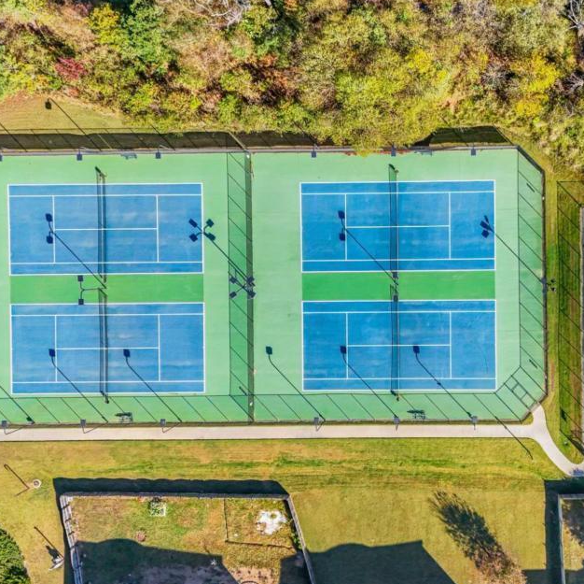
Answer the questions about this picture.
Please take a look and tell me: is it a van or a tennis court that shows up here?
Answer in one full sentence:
The image shows a tennis court.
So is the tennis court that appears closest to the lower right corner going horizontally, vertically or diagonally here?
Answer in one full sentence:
I'd say the tennis court that appears closest to the lower right corner is aligned horizontally in the picture.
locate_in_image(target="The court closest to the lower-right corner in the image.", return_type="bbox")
[302,300,498,392]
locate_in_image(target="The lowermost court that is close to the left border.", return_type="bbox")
[10,303,206,395]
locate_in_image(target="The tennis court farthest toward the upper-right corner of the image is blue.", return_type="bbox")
[301,180,495,272]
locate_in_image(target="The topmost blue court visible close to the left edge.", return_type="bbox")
[9,184,203,275]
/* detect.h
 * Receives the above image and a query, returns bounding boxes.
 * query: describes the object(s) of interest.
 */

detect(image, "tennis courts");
[302,300,498,392]
[10,303,206,395]
[9,184,203,275]
[301,180,495,272]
